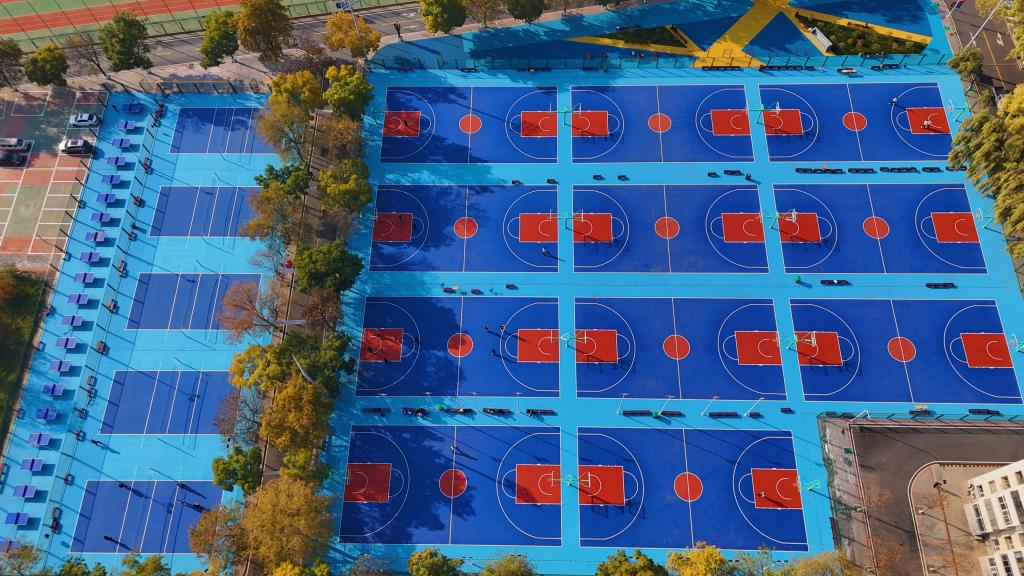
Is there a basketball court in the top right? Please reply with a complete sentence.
Yes, a basketball court is visible in the top right.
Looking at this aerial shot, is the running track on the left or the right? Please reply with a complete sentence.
The running track appears in the left half of the scene.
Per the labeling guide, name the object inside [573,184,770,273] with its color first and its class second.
blue basketball court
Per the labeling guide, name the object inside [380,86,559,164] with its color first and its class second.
blue basketball court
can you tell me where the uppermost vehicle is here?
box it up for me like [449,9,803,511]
[67,112,97,126]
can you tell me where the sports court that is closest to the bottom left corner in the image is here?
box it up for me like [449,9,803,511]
[69,467,221,569]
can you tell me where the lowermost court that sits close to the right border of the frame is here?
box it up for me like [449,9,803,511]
[791,298,1022,403]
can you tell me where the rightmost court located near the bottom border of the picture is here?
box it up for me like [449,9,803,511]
[577,428,808,551]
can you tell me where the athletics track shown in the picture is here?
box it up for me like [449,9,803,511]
[0,0,413,52]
